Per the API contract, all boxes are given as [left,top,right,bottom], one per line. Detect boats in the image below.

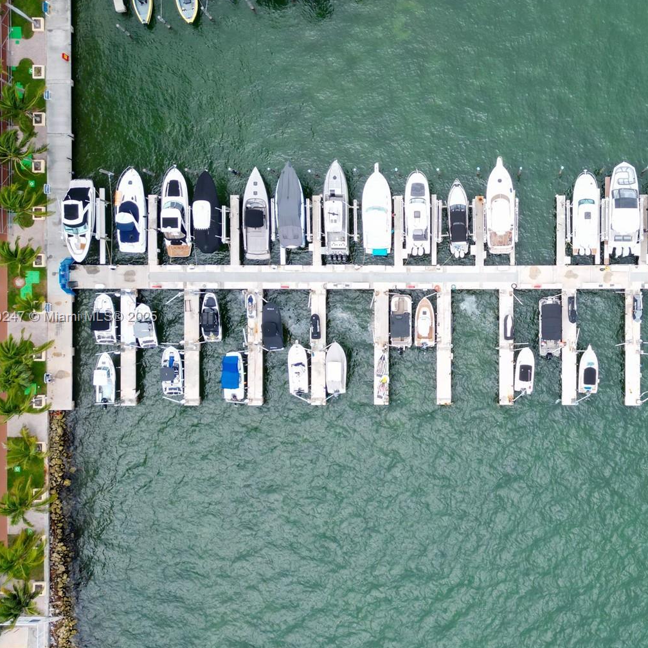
[323,160,351,262]
[130,0,156,24]
[90,293,119,345]
[538,296,563,361]
[201,292,223,342]
[447,177,469,259]
[193,168,223,254]
[160,347,185,394]
[515,347,535,394]
[276,162,306,249]
[486,155,515,258]
[415,297,436,350]
[571,168,600,257]
[243,167,270,261]
[115,165,149,254]
[363,161,392,256]
[259,300,285,355]
[578,345,599,396]
[404,168,430,255]
[62,180,97,262]
[93,353,120,409]
[176,0,200,23]
[326,342,348,398]
[223,352,248,405]
[609,162,640,259]
[390,293,412,355]
[287,339,309,396]
[160,163,194,258]
[247,294,256,318]
[133,302,161,348]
